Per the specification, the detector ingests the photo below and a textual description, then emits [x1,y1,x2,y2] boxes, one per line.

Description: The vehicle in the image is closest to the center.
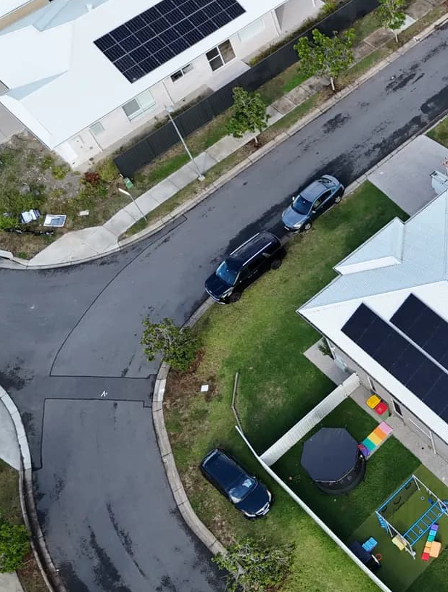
[206,228,289,302]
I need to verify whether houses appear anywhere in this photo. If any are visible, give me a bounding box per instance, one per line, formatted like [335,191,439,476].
[293,185,448,461]
[0,0,293,169]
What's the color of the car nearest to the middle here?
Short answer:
black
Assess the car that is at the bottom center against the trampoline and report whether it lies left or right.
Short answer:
to the left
